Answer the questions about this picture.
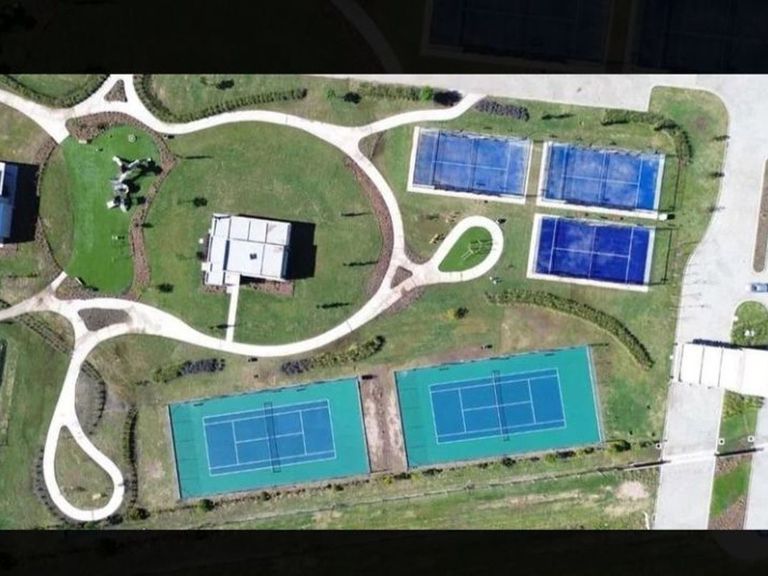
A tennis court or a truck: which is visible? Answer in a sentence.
Of the two, only a tennis court appears.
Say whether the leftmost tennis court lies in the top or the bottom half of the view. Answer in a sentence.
You can find the leftmost tennis court in the bottom half.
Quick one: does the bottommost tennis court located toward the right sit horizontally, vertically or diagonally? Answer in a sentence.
The bottommost tennis court located toward the right has been laid out horizontally relative to the frame.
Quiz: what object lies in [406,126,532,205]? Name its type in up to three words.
sports court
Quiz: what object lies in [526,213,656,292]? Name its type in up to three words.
sports court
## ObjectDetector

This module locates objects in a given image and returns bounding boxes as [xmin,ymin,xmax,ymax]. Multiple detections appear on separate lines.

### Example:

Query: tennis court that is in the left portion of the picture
[166,375,373,502]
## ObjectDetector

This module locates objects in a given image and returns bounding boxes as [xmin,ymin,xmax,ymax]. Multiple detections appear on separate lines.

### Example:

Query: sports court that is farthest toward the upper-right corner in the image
[537,141,665,218]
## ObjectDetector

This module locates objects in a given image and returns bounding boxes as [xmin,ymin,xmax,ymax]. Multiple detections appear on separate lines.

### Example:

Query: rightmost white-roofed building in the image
[205,214,292,285]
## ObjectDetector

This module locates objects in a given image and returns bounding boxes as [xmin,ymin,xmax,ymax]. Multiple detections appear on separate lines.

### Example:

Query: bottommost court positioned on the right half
[392,343,604,472]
